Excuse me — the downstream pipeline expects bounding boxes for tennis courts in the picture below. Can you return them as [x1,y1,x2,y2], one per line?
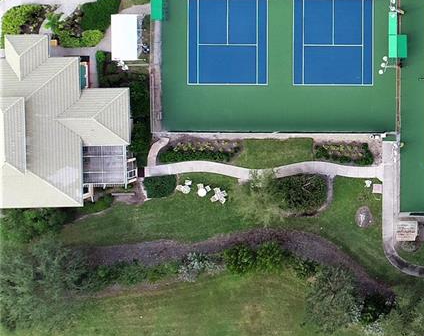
[281,0,396,132]
[161,0,281,132]
[400,0,424,213]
